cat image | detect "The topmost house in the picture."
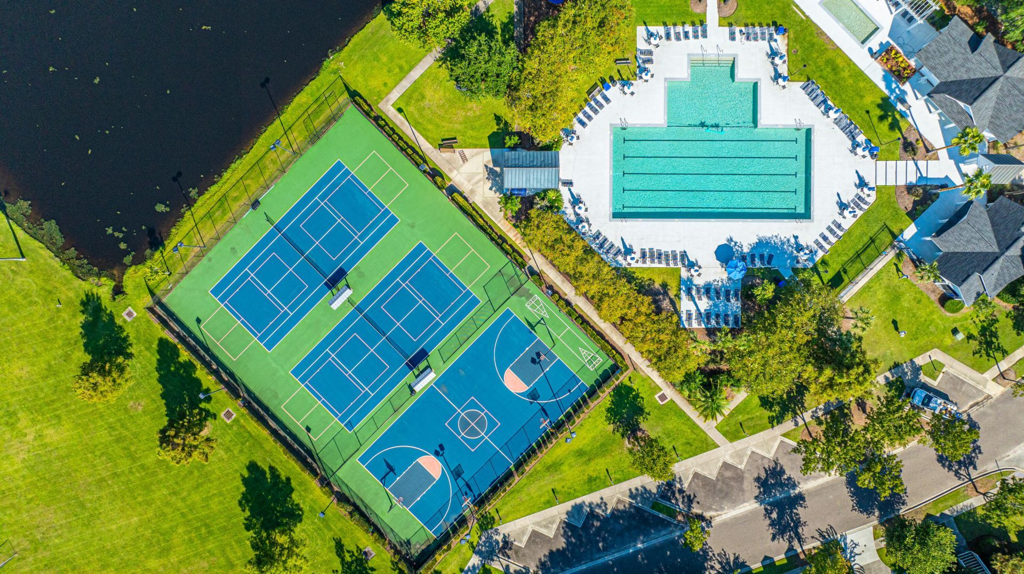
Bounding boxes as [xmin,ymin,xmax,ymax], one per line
[910,8,1024,145]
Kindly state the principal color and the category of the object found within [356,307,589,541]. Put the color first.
blue basketball court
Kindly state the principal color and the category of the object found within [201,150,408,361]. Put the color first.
blue tennis court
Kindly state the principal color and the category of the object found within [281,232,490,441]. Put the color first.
blue tennis court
